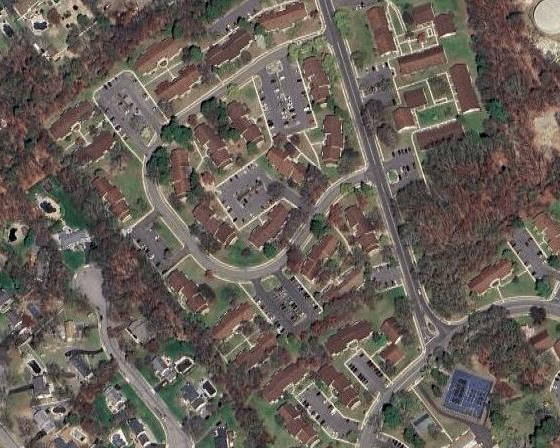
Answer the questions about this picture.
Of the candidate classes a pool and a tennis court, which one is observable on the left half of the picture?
pool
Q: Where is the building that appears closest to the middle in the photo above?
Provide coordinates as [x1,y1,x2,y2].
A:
[249,205,293,251]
